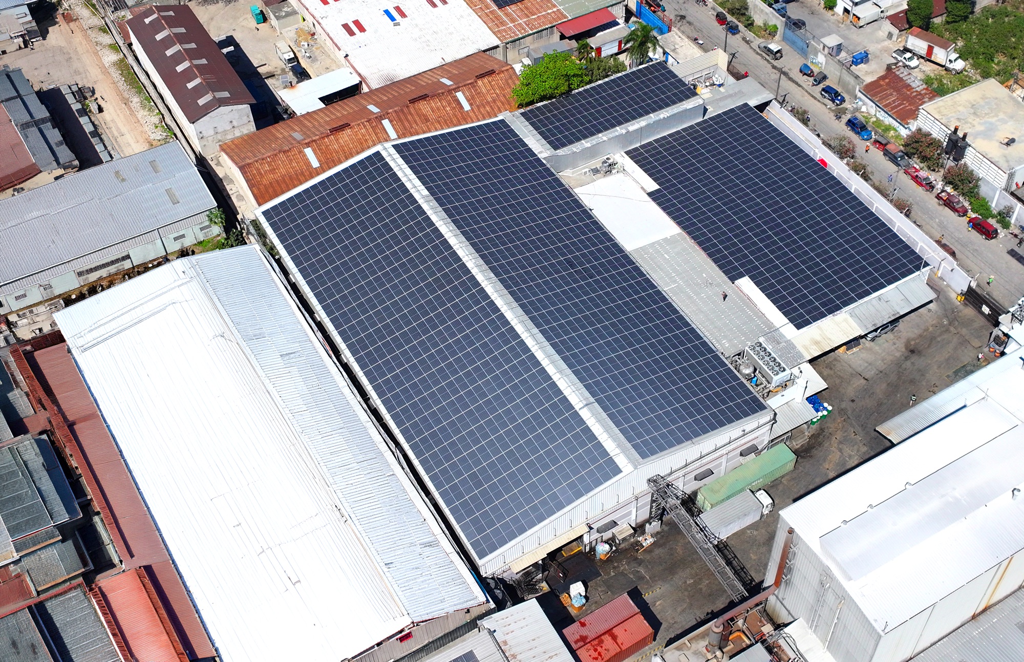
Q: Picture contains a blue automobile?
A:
Yes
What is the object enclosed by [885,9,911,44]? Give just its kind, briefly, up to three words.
shed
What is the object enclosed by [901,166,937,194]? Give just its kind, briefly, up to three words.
truck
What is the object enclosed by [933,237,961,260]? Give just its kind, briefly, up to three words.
car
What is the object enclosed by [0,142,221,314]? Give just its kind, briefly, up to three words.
building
